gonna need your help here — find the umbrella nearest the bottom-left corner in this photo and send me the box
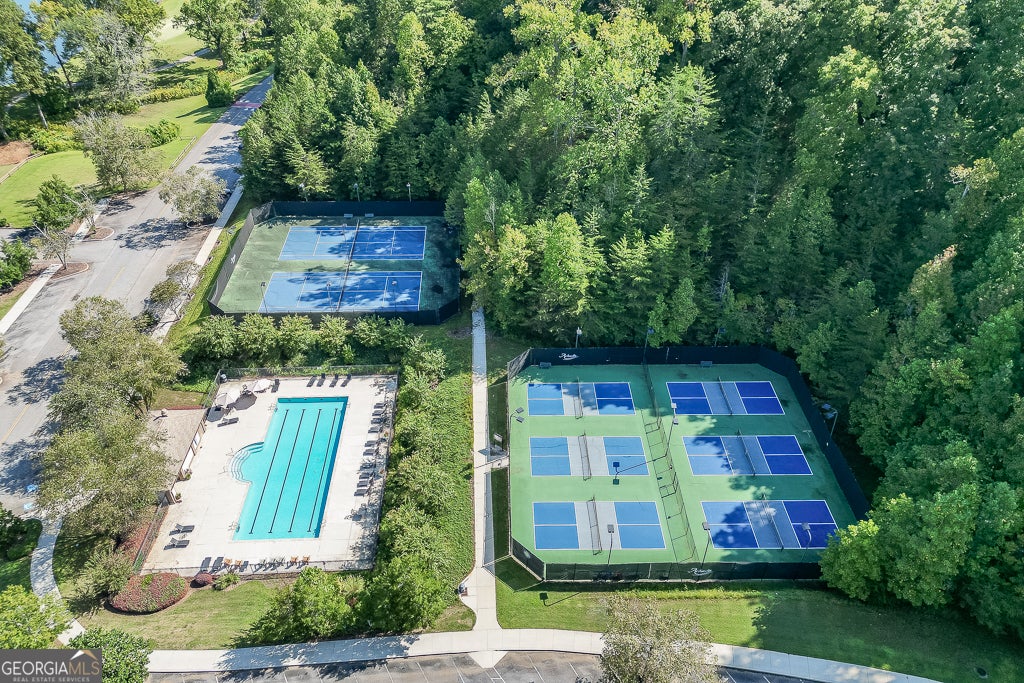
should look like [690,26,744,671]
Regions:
[216,388,242,411]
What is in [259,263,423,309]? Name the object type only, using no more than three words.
tennis court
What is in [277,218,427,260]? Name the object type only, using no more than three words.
tennis court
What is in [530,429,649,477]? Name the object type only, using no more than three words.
sports court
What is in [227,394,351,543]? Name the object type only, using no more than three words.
swimming pool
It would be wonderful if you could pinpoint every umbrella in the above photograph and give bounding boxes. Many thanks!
[248,377,274,400]
[216,388,242,411]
